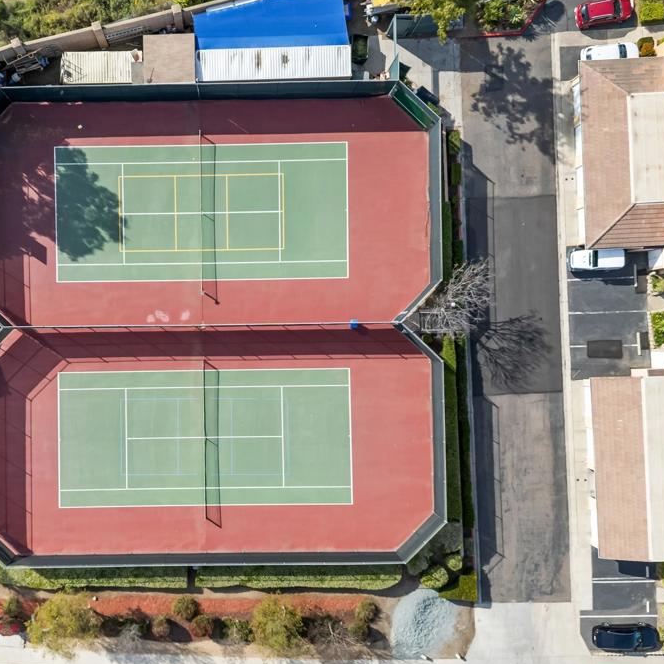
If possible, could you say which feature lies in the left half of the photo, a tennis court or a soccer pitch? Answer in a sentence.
You can see a tennis court in the left half of the photo.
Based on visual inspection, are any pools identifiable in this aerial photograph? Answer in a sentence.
No, there appears to be no pool in this shot.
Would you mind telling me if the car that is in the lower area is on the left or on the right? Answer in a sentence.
The car that is in the lower area sits on the right side.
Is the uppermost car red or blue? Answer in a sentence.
From above, the uppermost car appears red.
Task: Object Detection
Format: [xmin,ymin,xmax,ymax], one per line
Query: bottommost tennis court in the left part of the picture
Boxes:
[0,328,432,556]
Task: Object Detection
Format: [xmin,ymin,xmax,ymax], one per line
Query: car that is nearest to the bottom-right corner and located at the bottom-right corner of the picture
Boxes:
[592,622,656,655]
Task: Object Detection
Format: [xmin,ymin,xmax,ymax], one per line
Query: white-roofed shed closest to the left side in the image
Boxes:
[62,50,134,88]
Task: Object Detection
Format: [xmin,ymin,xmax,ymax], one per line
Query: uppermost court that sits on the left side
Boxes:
[0,99,429,332]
